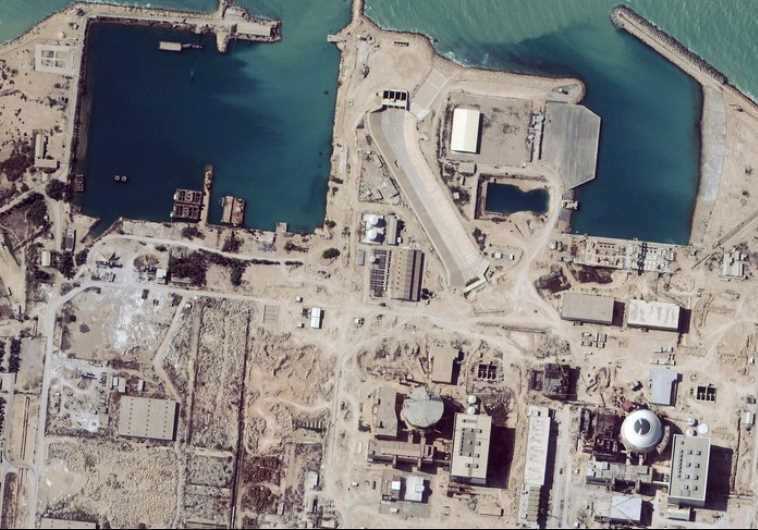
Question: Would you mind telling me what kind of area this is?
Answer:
port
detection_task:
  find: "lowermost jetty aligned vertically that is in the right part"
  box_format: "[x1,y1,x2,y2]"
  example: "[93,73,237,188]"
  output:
[560,190,578,235]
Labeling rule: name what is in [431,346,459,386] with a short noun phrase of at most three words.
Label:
building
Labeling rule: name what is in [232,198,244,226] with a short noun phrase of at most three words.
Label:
ship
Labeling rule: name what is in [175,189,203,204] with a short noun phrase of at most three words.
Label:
ship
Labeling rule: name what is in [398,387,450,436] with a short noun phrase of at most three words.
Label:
building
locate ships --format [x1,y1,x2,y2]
[175,189,203,204]
[232,198,244,226]
[221,196,232,224]
[74,175,84,192]
[158,41,181,50]
[172,205,201,221]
